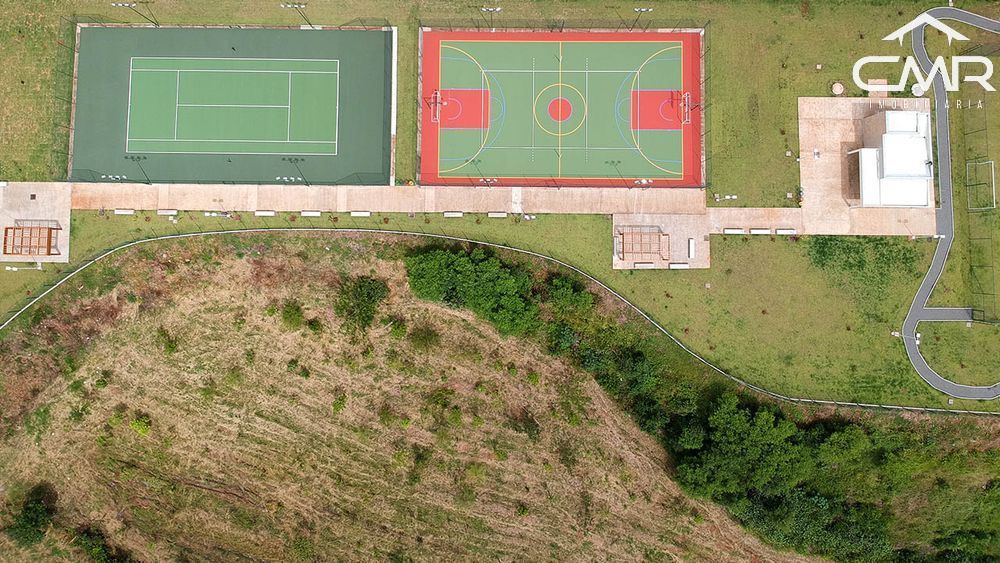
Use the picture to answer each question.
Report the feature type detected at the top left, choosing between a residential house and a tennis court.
tennis court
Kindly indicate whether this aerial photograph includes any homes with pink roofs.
No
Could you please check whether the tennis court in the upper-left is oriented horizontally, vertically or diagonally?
horizontally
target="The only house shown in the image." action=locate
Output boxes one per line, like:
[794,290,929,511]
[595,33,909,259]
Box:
[849,110,933,209]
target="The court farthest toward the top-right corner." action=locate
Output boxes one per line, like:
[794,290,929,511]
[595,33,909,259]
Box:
[417,27,706,188]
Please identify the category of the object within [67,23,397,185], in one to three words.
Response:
tennis court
